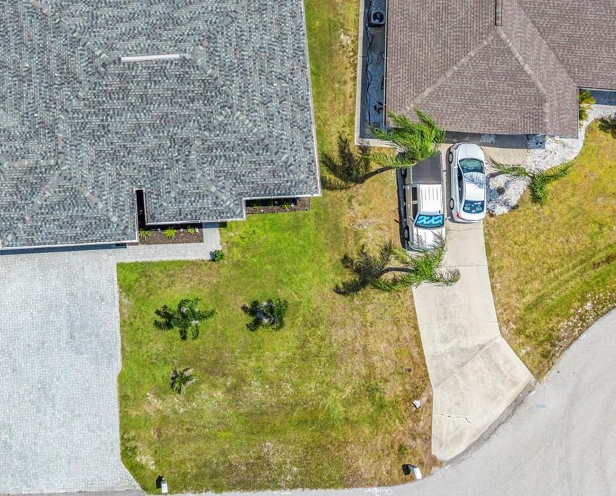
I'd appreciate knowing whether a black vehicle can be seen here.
No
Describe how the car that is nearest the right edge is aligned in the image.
up and down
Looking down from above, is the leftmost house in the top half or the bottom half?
top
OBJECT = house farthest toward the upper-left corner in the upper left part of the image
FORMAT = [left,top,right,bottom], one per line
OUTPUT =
[0,0,326,251]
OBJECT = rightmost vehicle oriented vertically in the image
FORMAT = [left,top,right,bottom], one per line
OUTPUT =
[446,145,487,228]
